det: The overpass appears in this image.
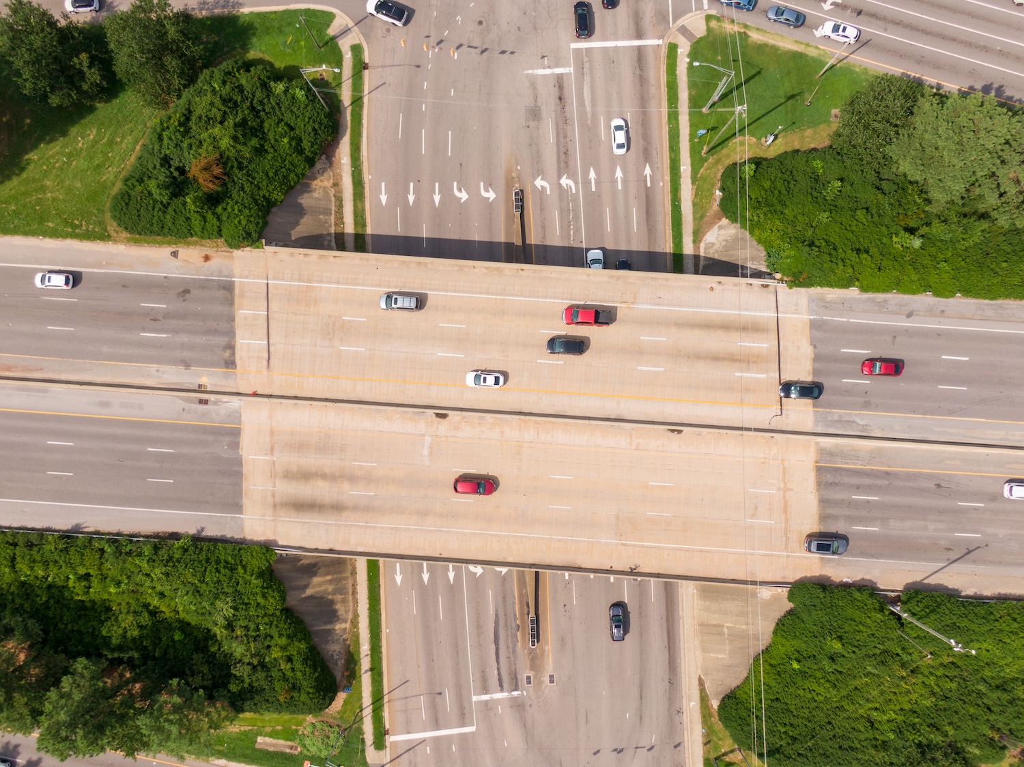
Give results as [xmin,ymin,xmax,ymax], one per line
[234,241,818,586]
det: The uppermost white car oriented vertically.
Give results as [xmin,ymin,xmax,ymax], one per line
[610,117,627,155]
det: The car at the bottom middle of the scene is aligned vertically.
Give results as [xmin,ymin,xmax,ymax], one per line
[609,603,626,642]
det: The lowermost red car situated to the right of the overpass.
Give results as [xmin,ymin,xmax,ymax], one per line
[860,358,904,377]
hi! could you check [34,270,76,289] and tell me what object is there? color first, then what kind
white car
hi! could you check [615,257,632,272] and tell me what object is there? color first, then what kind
black car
